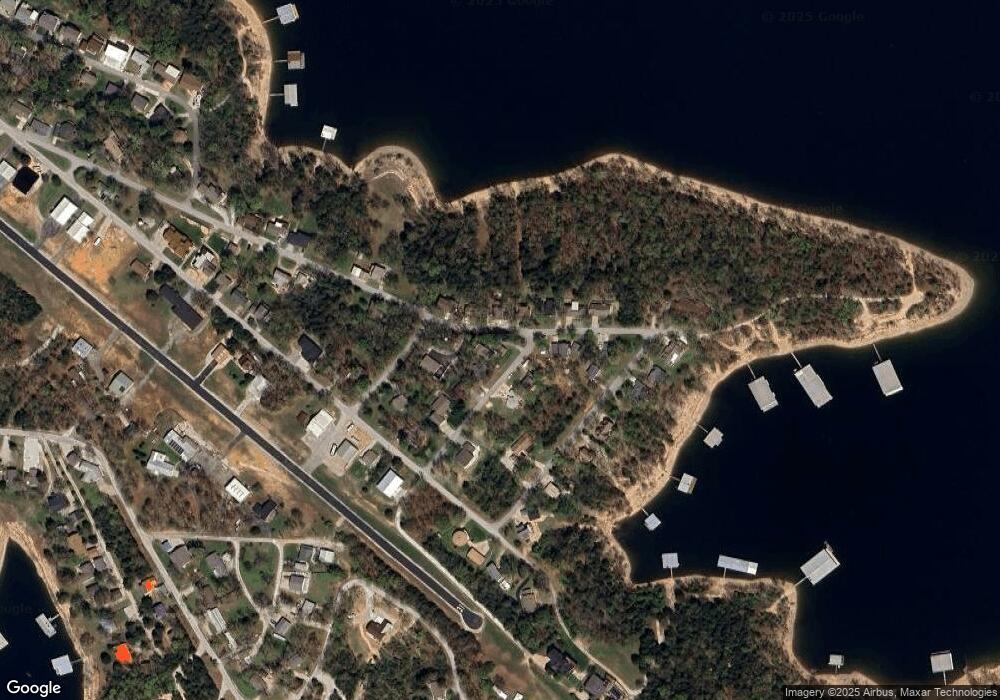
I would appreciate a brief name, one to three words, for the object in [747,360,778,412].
pier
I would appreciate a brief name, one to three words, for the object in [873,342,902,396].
pier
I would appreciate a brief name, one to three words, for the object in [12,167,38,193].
building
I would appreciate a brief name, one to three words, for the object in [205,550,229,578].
house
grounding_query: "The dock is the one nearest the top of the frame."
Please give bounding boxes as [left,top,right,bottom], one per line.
[262,4,298,24]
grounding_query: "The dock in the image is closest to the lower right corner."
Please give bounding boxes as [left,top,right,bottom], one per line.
[931,650,953,687]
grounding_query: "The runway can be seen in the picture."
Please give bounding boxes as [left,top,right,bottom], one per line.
[0,220,482,630]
